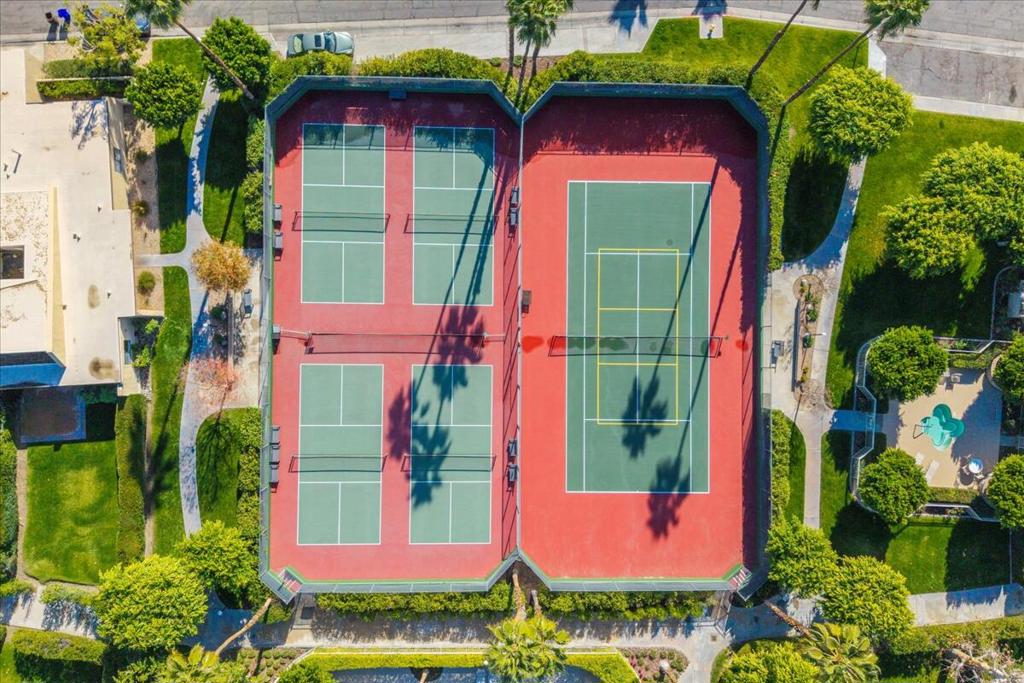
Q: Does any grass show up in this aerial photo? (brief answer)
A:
Yes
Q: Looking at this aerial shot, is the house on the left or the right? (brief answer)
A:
left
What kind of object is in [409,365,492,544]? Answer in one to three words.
sports court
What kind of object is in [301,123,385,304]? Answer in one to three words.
sports court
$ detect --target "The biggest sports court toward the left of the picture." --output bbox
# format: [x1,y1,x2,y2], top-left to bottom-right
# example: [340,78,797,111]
[270,90,521,580]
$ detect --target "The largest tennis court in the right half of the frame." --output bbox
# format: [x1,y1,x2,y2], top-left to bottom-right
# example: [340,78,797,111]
[518,96,756,580]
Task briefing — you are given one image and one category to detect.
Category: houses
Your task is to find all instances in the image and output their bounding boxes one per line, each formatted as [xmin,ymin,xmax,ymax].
[0,48,138,389]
